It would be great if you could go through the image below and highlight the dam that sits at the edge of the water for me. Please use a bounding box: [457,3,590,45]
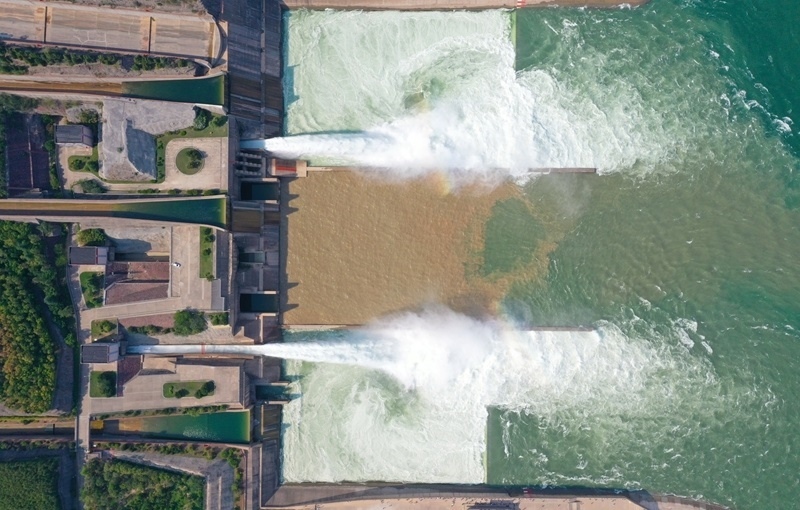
[206,0,283,510]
